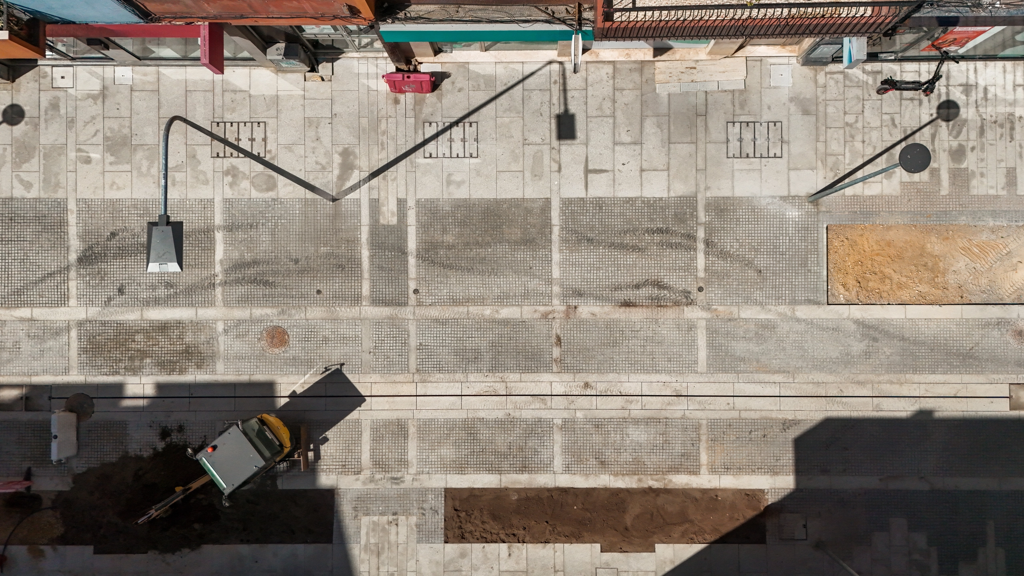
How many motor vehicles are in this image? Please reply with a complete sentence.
Looking from above, you can make out 2 motor vehicles.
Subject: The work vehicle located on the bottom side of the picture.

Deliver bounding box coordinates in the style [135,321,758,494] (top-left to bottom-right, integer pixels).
[134,402,313,526]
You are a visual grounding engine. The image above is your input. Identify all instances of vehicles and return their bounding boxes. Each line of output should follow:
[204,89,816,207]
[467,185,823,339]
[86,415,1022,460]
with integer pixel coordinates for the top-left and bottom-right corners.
[134,402,313,526]
[879,47,962,99]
